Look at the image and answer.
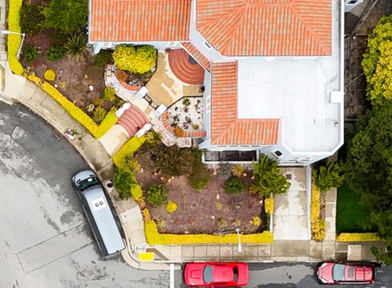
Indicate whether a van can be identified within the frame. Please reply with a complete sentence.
Yes, a van can be made out from above.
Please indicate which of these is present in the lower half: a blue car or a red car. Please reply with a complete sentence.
There is a red car in the lower half.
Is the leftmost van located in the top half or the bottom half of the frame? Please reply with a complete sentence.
The leftmost van is in the bottom half of the image.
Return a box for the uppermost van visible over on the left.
[66,169,129,258]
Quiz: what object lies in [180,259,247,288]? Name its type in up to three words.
car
